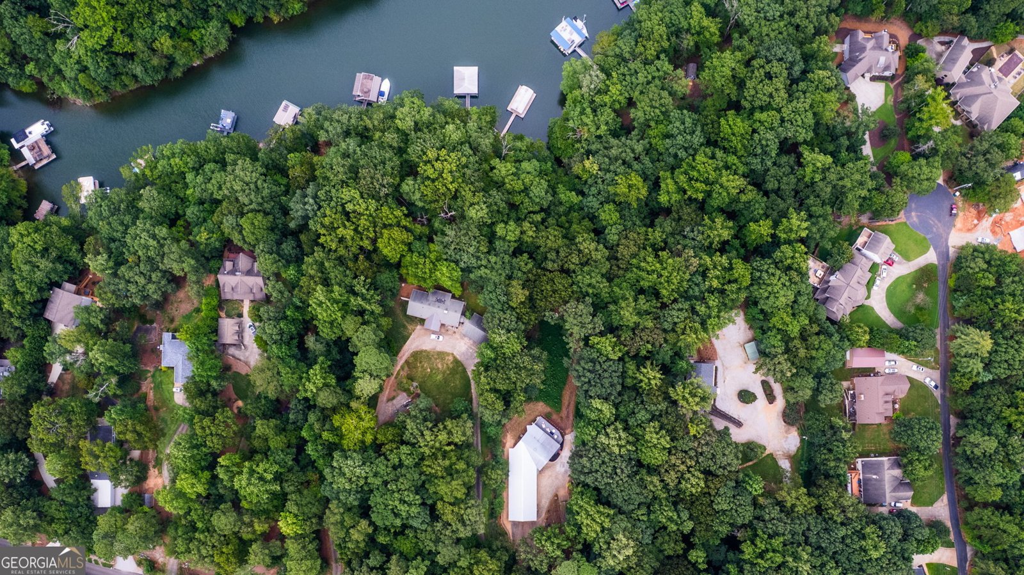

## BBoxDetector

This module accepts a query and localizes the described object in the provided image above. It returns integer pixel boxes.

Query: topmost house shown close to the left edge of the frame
[44,275,95,326]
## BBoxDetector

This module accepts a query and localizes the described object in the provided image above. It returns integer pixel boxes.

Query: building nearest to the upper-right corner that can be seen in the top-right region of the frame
[935,35,1021,130]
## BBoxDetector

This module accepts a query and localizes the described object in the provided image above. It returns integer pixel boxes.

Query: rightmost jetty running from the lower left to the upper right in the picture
[499,85,536,138]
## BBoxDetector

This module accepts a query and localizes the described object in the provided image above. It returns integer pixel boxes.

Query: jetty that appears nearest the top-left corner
[12,134,56,171]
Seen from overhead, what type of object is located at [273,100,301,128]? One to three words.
pier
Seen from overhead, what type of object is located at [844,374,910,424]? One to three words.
house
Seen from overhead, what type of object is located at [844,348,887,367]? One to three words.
shed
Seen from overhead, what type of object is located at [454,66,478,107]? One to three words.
pier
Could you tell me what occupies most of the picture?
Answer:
trees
